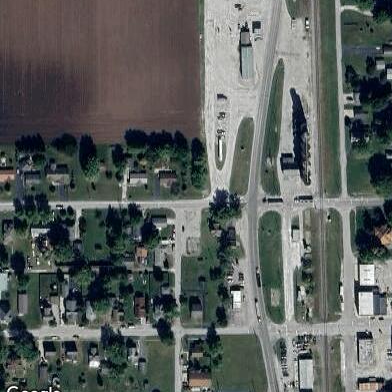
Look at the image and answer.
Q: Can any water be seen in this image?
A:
No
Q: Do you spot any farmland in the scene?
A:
Yes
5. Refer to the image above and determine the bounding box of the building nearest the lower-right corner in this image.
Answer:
[361,377,383,392]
